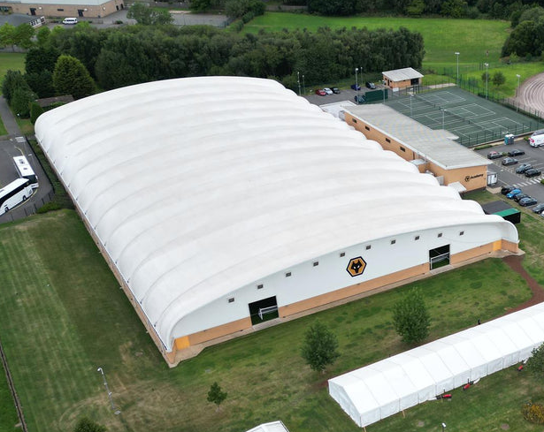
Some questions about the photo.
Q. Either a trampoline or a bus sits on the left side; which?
bus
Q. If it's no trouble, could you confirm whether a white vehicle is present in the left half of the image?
Yes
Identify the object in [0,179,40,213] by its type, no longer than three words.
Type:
bus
